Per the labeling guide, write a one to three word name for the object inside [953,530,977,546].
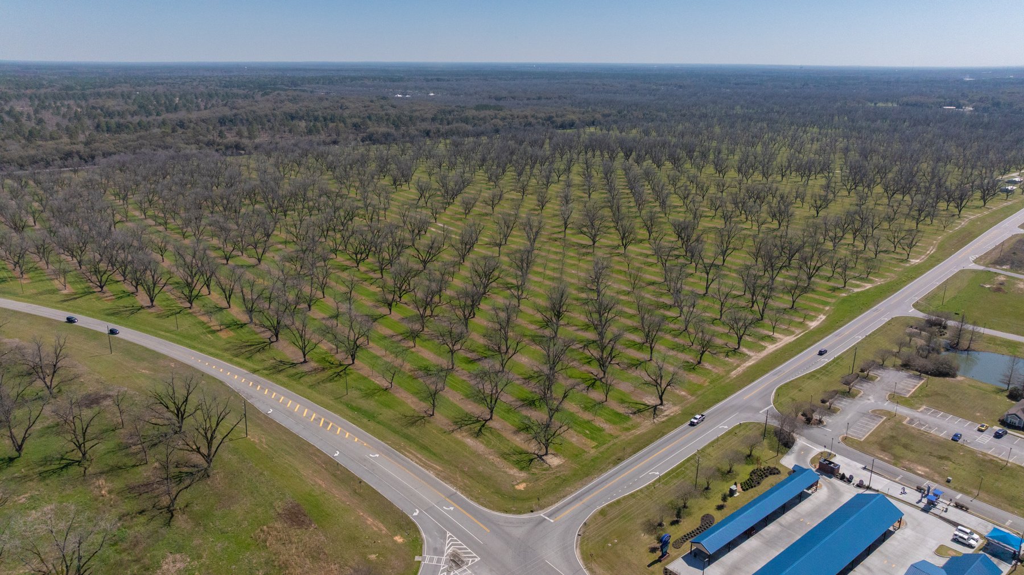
car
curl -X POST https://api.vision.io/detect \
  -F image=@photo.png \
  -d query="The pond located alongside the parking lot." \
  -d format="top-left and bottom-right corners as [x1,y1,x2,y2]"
[942,341,1024,387]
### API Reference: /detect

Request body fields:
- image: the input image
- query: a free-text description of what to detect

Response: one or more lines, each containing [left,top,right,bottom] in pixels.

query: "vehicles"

[995,428,1006,437]
[65,316,76,322]
[952,432,963,440]
[953,530,977,546]
[956,524,980,540]
[109,328,119,333]
[818,347,828,354]
[978,423,988,431]
[690,413,705,424]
